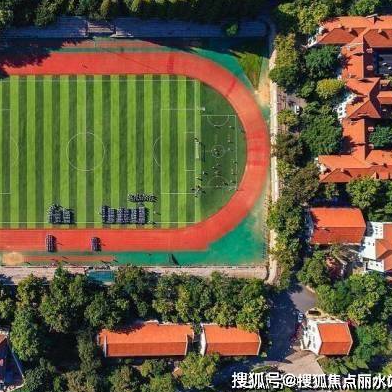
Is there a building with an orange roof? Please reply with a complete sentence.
Yes, there is a building with an orange roof in the image.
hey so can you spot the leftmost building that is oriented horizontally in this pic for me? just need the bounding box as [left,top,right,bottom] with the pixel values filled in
[98,319,195,358]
